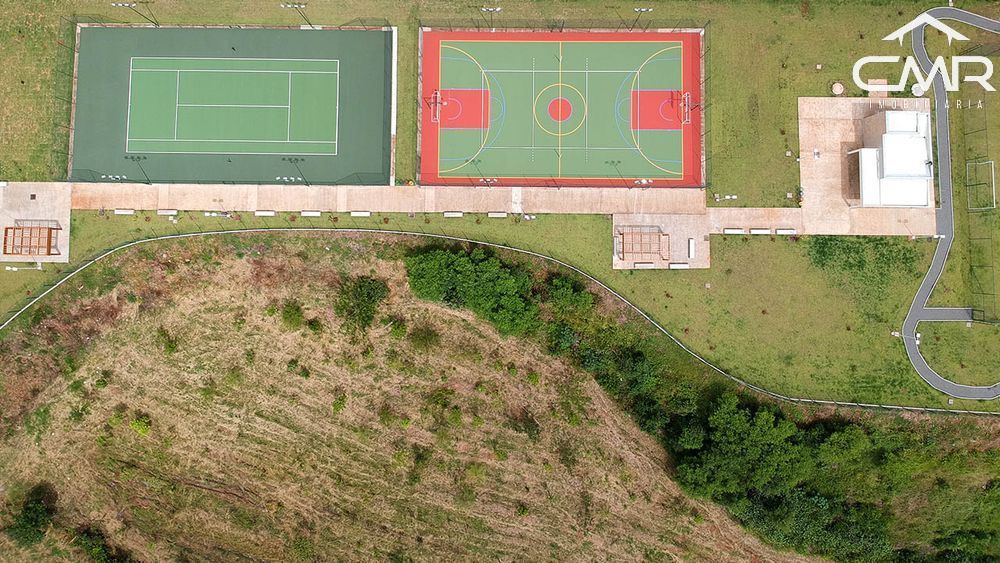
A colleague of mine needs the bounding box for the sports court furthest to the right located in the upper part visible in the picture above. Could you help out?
[417,27,706,188]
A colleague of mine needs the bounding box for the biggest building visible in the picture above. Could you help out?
[849,110,933,209]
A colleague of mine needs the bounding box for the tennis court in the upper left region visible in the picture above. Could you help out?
[67,23,397,185]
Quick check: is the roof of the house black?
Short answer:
No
